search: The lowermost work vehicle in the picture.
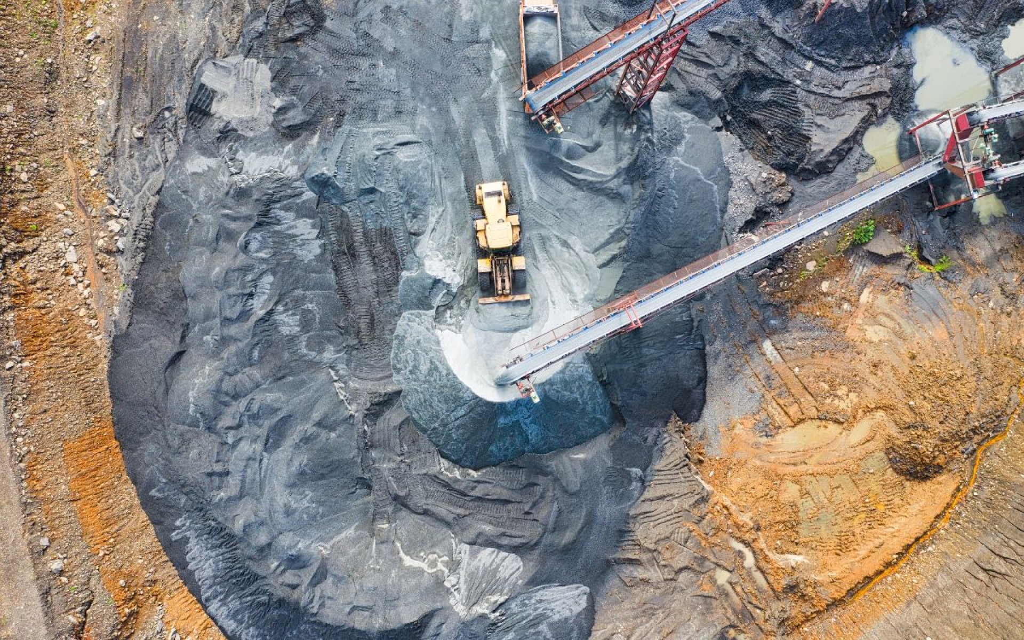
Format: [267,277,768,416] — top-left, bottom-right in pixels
[473,181,531,307]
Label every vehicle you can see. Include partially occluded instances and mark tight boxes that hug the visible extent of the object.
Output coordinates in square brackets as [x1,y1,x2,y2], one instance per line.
[473,181,531,307]
[516,0,563,104]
